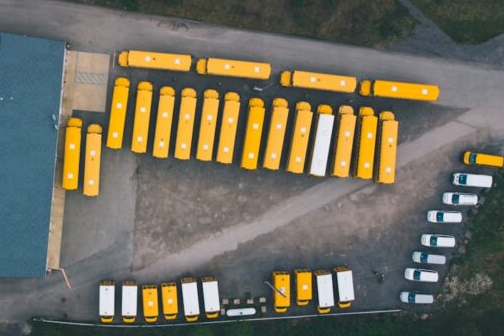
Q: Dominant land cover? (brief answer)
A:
paved ground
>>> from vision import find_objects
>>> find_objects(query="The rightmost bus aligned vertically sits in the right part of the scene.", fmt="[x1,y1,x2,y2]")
[372,110,398,184]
